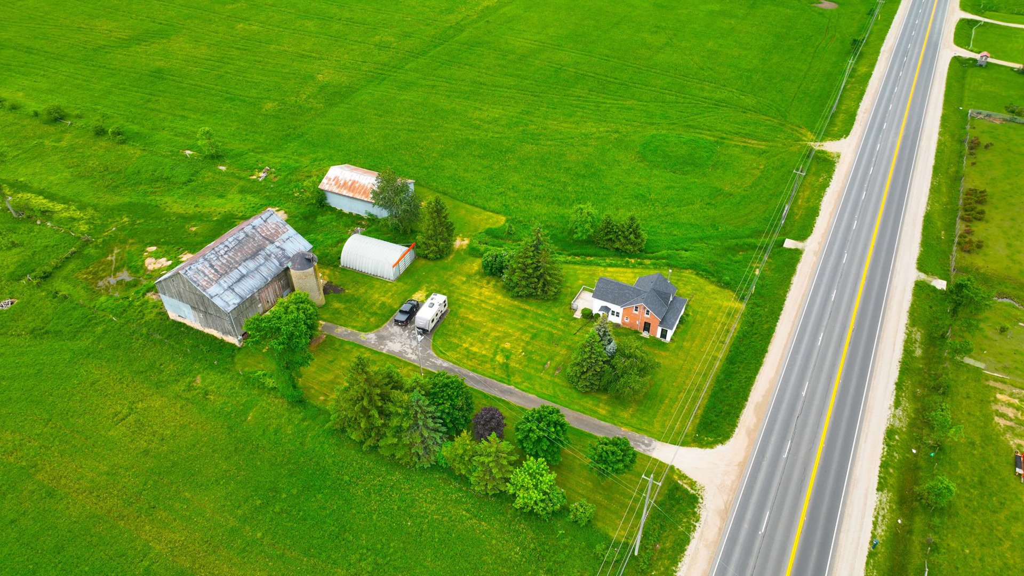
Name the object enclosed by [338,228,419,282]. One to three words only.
shed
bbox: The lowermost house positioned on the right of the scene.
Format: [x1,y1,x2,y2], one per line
[573,269,688,342]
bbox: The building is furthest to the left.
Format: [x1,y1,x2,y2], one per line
[153,211,313,347]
